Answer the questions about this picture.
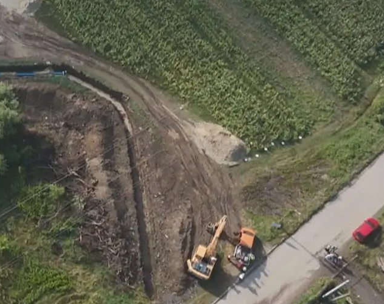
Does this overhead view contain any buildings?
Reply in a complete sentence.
No, there's no building here.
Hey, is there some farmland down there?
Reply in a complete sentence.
Yes, farmland can be seen from above here.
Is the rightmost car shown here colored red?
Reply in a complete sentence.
Yes, the rightmost car appears red.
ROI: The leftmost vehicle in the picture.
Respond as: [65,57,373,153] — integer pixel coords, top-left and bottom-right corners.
[186,215,228,283]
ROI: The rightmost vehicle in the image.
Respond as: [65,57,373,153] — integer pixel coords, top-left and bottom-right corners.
[354,219,383,242]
